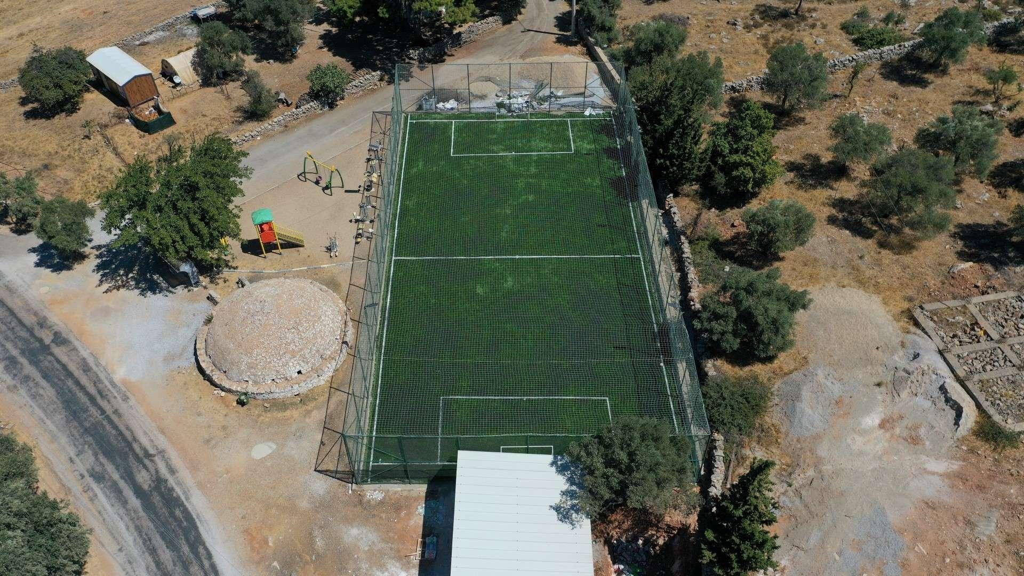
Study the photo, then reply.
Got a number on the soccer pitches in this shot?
1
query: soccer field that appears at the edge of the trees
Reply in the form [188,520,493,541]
[353,109,709,493]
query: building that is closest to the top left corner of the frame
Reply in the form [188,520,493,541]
[88,49,161,110]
